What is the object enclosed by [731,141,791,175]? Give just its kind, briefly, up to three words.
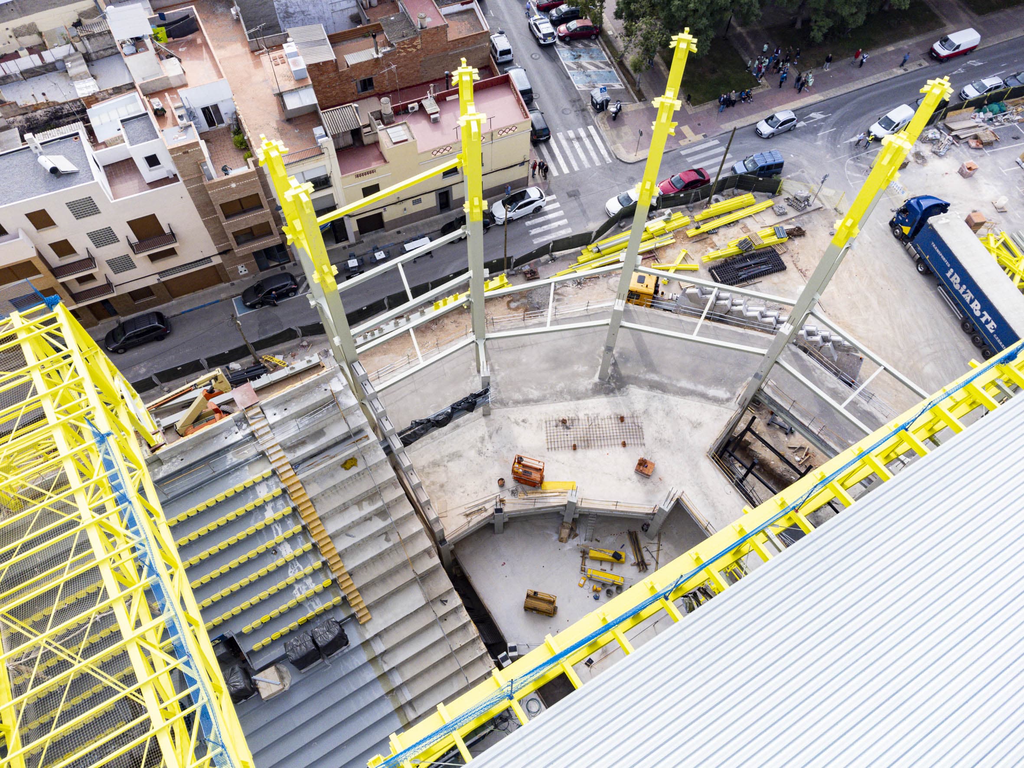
car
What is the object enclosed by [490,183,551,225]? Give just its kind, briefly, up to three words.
car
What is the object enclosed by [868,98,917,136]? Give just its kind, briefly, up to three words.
van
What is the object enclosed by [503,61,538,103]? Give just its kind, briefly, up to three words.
van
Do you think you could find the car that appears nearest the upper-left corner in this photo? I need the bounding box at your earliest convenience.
[98,304,177,355]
